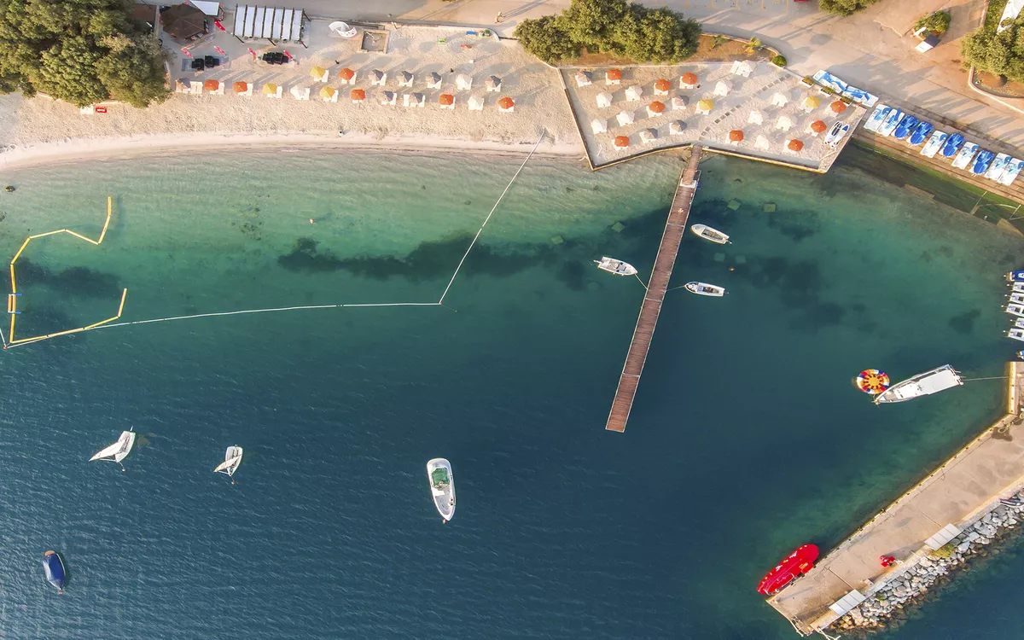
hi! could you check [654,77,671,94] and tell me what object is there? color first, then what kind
orange umbrella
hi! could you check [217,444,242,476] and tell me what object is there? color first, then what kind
white boat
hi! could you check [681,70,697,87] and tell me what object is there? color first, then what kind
orange umbrella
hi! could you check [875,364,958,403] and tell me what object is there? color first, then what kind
white boat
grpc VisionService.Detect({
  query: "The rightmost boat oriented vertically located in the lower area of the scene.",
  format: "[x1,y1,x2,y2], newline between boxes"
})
[427,458,453,520]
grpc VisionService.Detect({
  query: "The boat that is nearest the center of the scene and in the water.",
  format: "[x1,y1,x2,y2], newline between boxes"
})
[591,257,638,277]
